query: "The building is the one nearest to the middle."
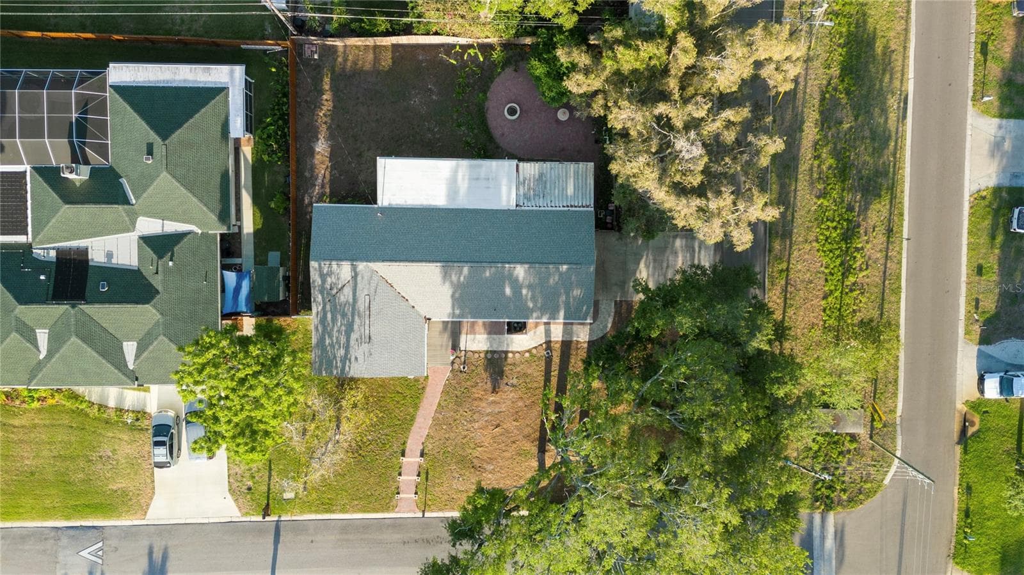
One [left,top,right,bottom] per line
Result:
[309,155,597,379]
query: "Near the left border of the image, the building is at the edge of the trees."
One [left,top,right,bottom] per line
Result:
[0,63,257,389]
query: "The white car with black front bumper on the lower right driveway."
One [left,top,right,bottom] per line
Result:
[980,372,1024,403]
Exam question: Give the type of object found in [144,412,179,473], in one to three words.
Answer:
car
